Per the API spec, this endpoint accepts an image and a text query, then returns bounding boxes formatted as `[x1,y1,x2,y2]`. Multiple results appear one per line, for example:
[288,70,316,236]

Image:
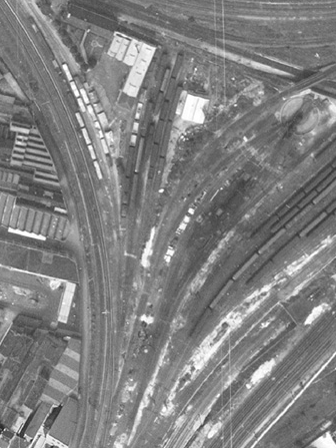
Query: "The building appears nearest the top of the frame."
[66,1,121,34]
